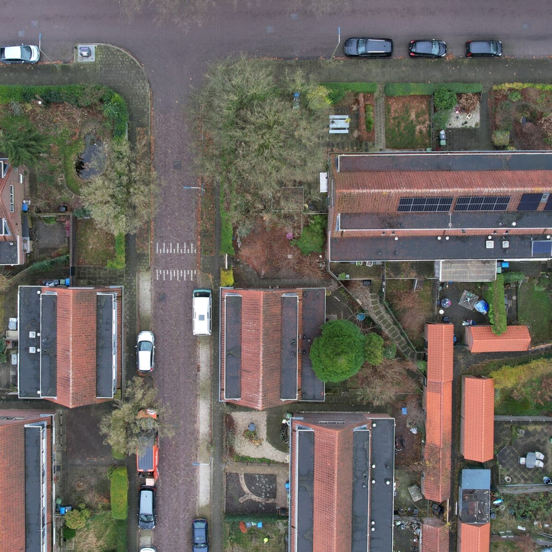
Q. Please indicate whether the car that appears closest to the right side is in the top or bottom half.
top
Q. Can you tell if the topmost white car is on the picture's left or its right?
left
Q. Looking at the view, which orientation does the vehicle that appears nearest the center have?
up and down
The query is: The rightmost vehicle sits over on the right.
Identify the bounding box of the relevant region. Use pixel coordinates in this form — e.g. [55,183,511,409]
[463,38,502,58]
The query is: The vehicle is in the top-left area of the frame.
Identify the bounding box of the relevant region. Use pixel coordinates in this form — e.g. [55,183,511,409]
[1,42,42,64]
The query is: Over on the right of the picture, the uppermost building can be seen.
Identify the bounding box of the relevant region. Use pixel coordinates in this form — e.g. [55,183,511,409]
[327,150,552,260]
